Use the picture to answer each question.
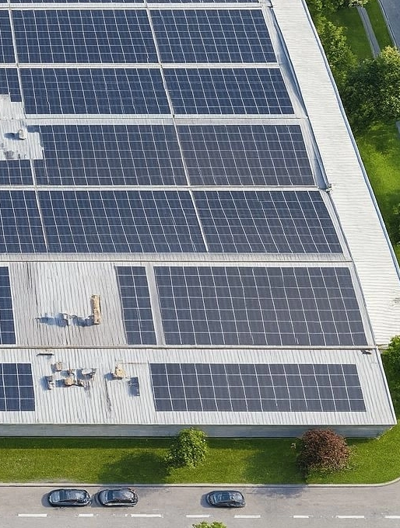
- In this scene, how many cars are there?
3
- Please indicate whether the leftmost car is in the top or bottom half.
bottom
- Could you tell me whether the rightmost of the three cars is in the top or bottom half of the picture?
bottom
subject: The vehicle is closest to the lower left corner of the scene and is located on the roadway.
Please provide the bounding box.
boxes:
[48,488,92,509]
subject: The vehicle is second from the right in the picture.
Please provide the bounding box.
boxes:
[97,487,139,508]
